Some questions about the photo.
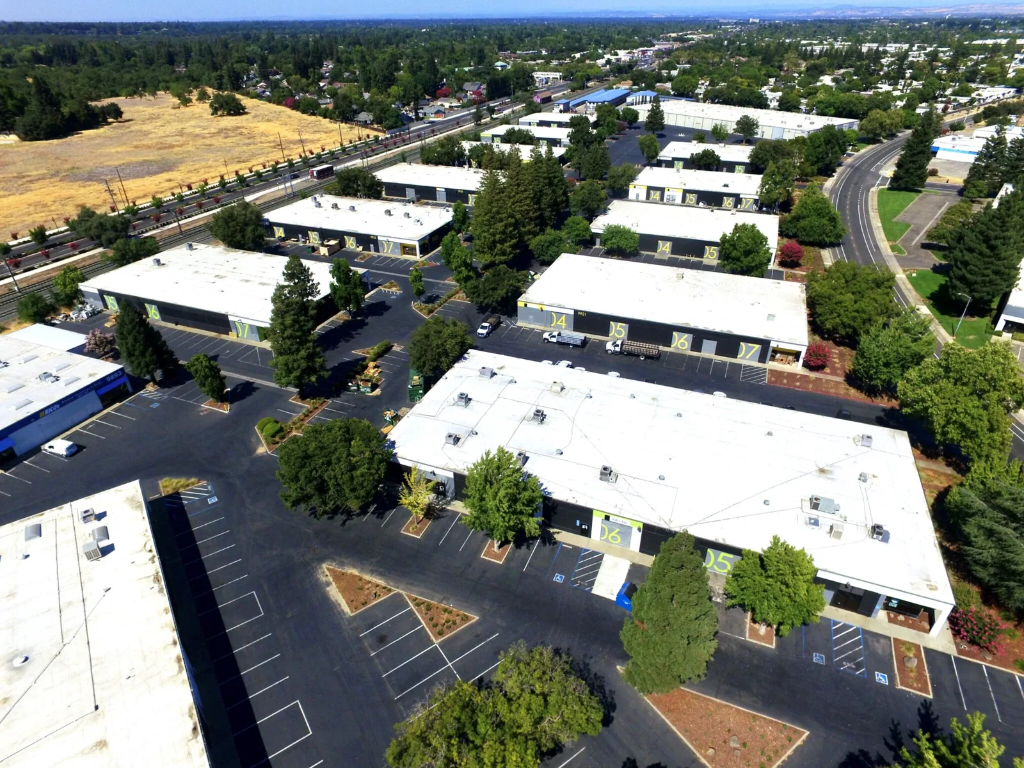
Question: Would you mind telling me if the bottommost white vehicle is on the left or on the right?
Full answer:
You can find the bottommost white vehicle on the left side of the picture.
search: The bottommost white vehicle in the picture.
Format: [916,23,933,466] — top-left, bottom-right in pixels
[37,432,76,455]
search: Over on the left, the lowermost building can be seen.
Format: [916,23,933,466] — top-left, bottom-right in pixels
[0,480,215,768]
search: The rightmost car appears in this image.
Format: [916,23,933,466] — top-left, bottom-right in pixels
[832,408,853,420]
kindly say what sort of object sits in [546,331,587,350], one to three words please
vehicle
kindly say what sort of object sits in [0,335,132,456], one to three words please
building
